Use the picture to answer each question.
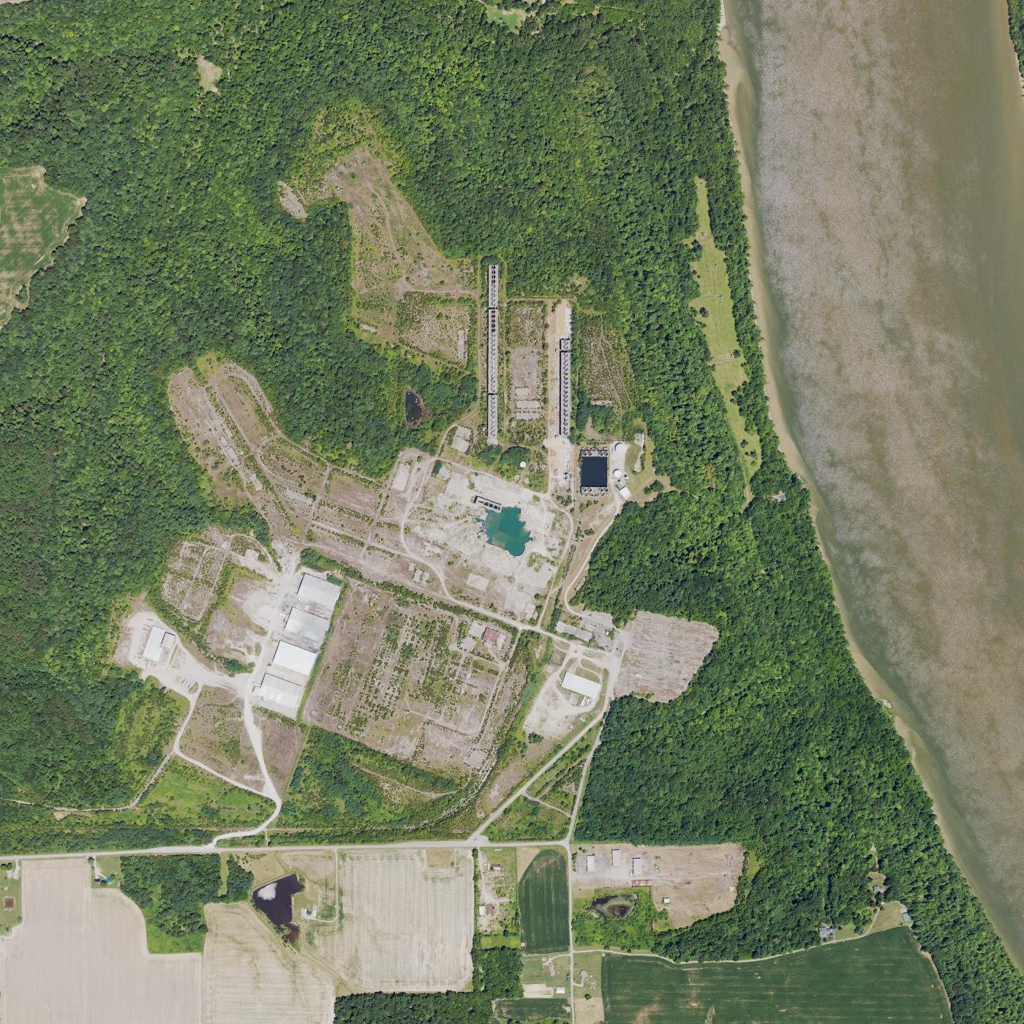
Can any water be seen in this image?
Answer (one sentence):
Yes, water can be seen from above here.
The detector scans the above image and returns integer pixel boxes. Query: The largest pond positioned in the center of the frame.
[475,506,532,556]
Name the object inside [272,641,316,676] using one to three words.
building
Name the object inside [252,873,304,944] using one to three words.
pond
